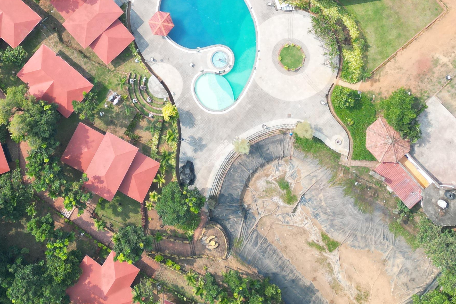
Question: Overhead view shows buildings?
Yes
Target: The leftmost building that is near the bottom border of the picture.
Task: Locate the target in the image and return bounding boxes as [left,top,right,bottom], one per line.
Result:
[66,252,143,304]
